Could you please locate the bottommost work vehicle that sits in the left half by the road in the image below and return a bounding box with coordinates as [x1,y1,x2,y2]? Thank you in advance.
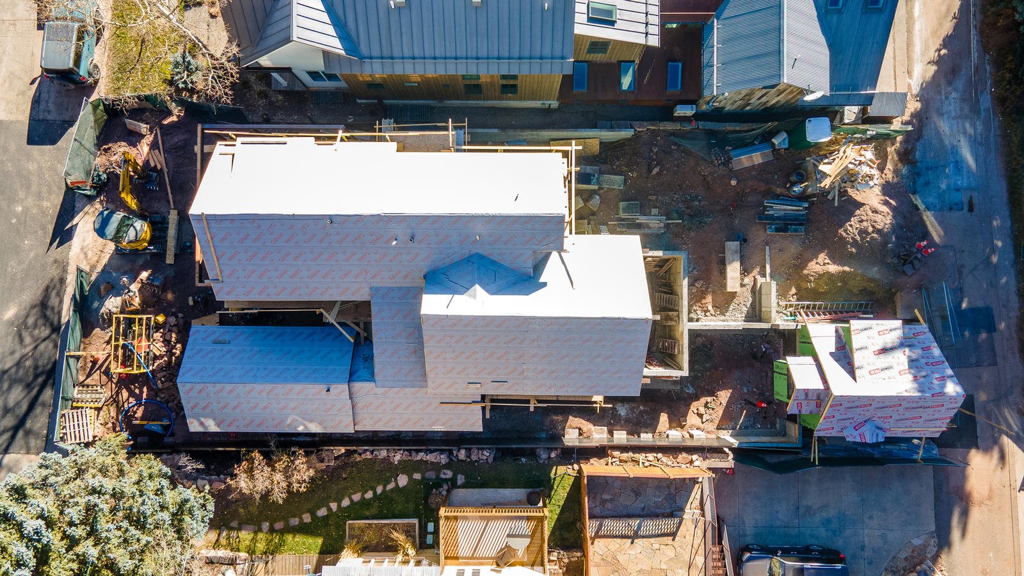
[94,152,180,259]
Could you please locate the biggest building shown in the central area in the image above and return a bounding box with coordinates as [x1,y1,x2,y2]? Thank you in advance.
[177,132,653,432]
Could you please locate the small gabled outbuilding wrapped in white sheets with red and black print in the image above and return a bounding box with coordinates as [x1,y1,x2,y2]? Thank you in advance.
[773,307,964,443]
